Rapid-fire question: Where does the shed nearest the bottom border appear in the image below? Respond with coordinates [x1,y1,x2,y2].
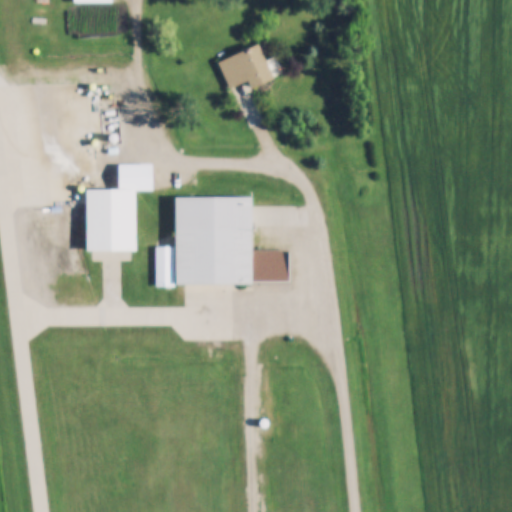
[154,246,174,288]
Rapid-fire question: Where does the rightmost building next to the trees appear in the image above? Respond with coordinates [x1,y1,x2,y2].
[220,44,282,92]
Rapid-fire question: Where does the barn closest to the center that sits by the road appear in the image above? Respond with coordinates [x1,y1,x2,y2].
[174,196,252,286]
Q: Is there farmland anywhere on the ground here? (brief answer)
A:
Yes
